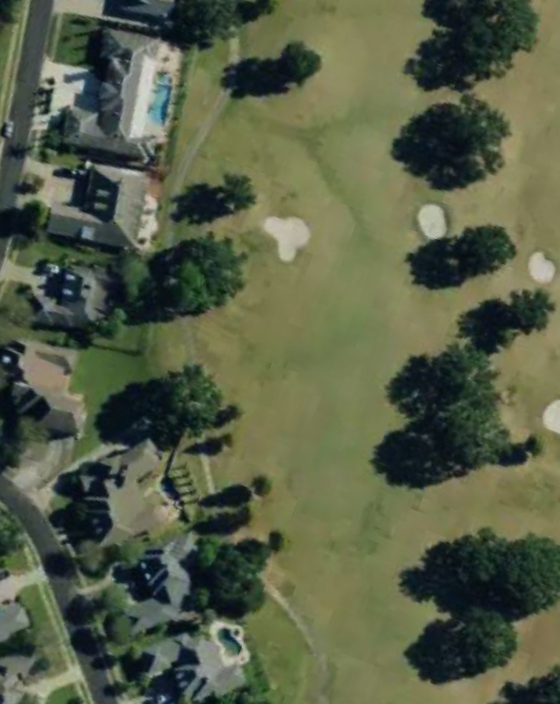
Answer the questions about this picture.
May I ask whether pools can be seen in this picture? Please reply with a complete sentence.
Yes, there's a pool here.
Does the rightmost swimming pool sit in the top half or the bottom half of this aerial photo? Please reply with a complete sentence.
Seen from above, the rightmost swimming pool lies in the bottom half of the view.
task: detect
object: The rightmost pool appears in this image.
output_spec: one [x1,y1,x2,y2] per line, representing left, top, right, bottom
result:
[210,621,249,665]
